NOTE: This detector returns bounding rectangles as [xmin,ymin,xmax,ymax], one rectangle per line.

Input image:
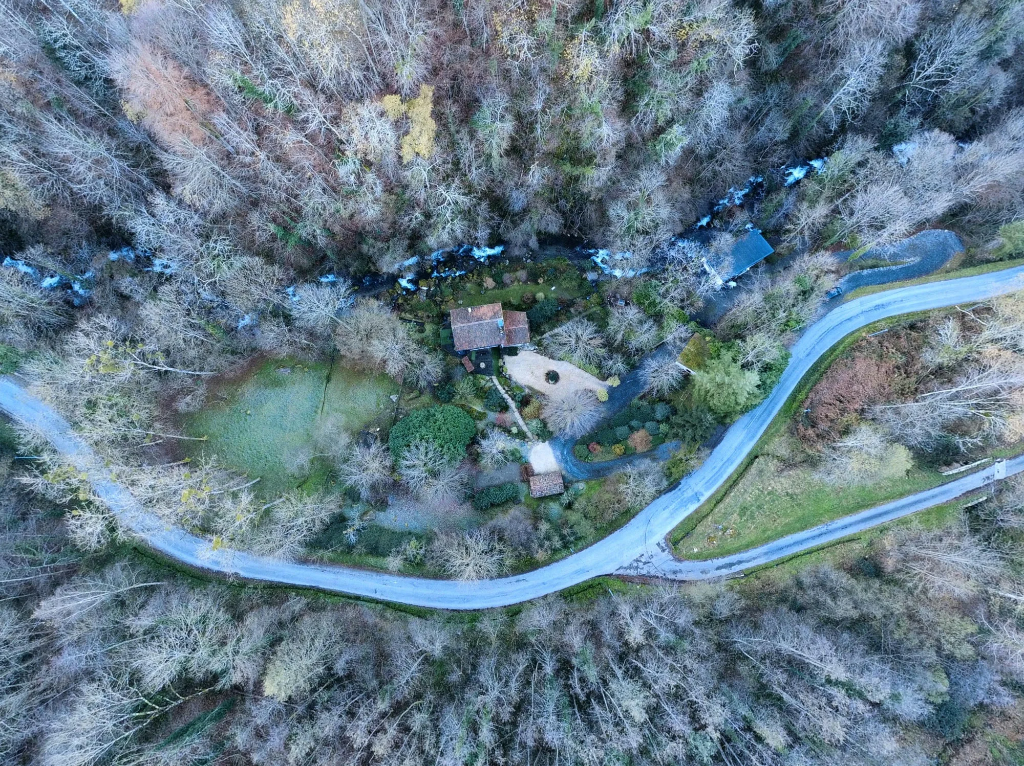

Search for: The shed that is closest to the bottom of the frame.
[529,471,564,498]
